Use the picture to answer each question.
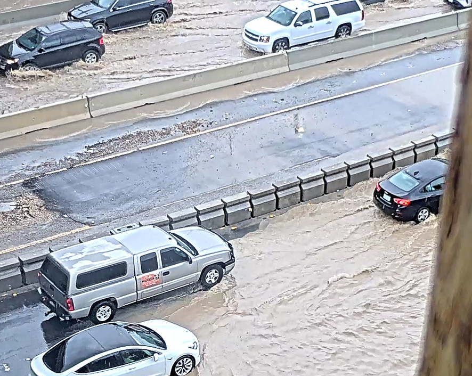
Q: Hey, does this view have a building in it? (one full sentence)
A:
No, no building can be seen from above.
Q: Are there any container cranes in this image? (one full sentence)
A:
No, the picture doesn't show any container crane.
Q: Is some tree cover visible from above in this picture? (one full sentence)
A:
No, tree cover can't be seen anywhere here.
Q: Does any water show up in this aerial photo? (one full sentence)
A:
Yes, water can be seen from above here.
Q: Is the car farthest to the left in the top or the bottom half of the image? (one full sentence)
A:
Seen from above, the car farthest to the left lies in the top half of the view.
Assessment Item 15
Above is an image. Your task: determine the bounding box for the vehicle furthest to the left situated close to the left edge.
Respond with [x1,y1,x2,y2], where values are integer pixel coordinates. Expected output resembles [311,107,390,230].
[0,19,109,73]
